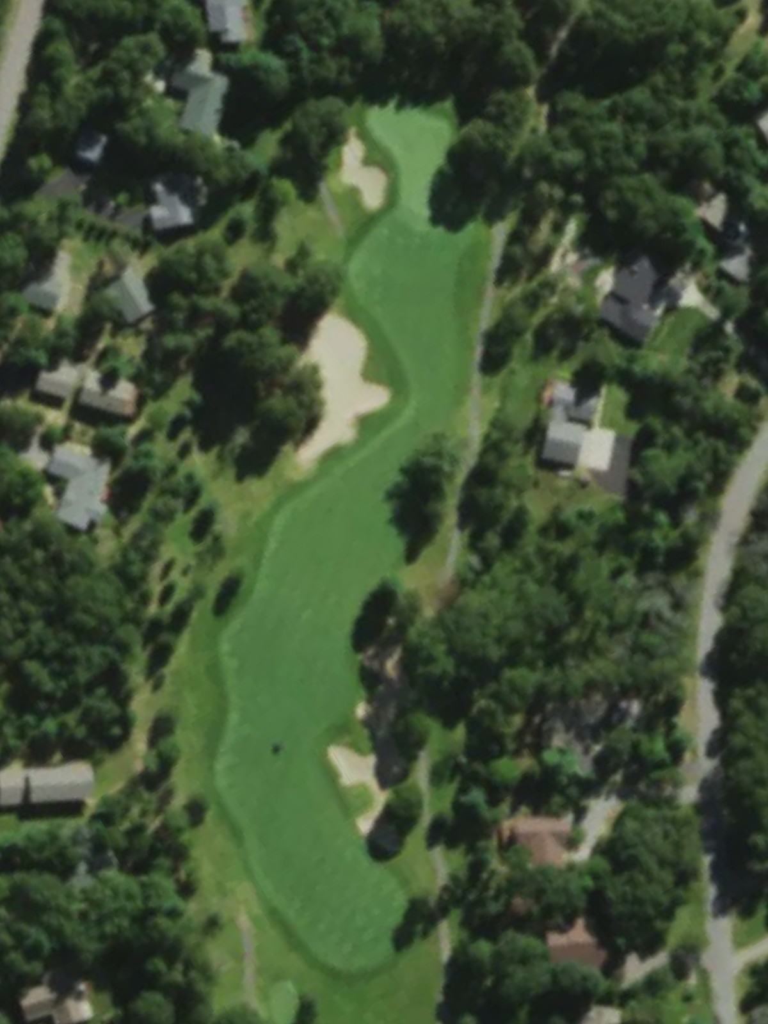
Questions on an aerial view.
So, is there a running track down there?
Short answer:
No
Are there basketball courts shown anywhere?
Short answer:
No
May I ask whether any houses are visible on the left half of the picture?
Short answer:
Yes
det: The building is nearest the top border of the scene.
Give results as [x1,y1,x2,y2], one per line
[207,0,248,43]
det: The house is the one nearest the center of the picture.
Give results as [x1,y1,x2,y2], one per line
[543,383,605,463]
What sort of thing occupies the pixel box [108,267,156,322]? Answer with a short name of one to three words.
house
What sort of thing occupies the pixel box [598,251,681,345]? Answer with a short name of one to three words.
house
